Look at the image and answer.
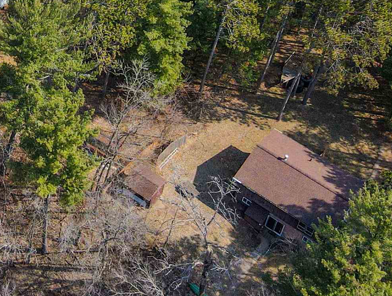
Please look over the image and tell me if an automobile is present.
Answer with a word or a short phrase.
No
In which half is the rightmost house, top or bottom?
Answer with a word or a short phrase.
bottom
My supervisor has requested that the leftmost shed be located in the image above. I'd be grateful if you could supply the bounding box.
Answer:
[118,160,167,211]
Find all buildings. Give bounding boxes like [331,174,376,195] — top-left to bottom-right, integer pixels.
[226,128,379,265]
[118,160,167,211]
